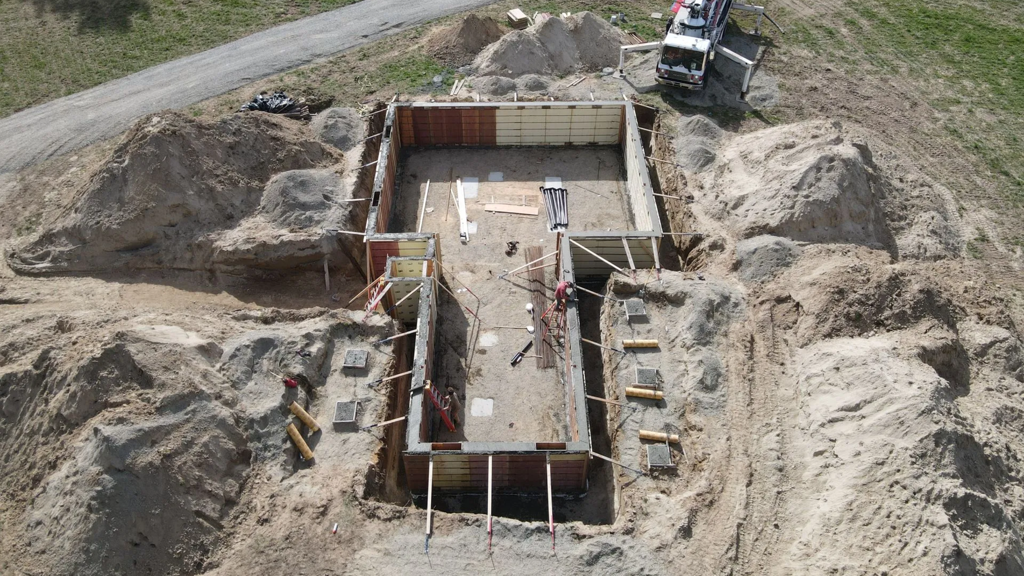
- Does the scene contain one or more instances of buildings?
No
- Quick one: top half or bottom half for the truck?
top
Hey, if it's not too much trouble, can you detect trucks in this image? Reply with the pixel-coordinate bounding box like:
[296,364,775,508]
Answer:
[612,0,764,105]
